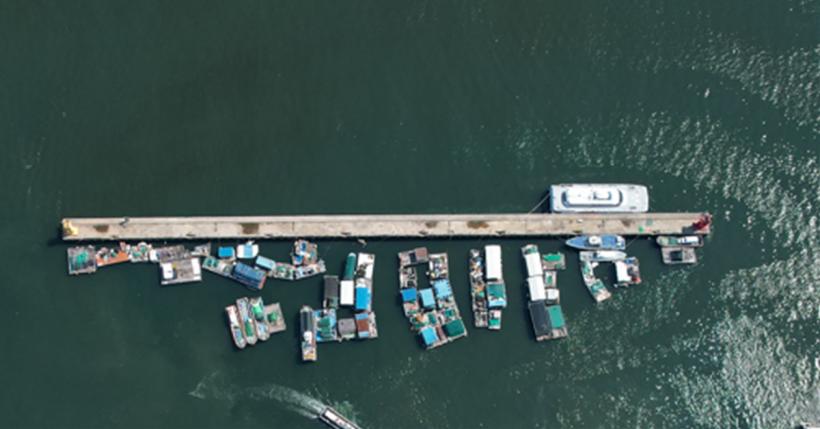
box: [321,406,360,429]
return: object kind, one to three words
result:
boat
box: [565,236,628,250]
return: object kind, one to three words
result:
boat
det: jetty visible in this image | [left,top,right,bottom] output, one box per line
[62,212,713,243]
